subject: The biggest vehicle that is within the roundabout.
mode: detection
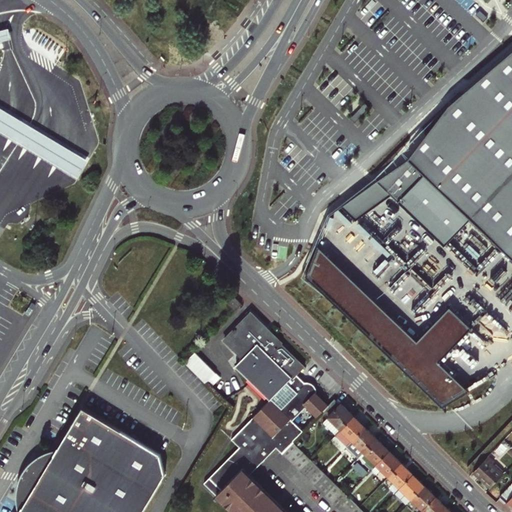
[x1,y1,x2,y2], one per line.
[232,131,245,162]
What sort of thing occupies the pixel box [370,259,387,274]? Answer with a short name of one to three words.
vehicle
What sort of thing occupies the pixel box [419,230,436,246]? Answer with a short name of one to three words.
vehicle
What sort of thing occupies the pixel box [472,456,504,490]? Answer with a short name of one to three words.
house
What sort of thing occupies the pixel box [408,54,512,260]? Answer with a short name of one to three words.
building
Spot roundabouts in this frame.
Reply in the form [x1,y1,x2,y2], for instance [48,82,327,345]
[112,76,252,216]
